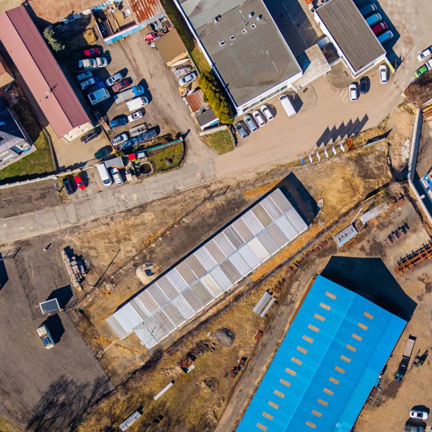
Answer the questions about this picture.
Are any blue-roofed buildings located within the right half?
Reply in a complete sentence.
Yes, the scene does show a blue-roofed building within the right half.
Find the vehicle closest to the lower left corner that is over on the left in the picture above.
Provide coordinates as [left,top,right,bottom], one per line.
[38,324,56,348]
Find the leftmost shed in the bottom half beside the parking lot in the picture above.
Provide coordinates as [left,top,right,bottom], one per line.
[106,187,309,350]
